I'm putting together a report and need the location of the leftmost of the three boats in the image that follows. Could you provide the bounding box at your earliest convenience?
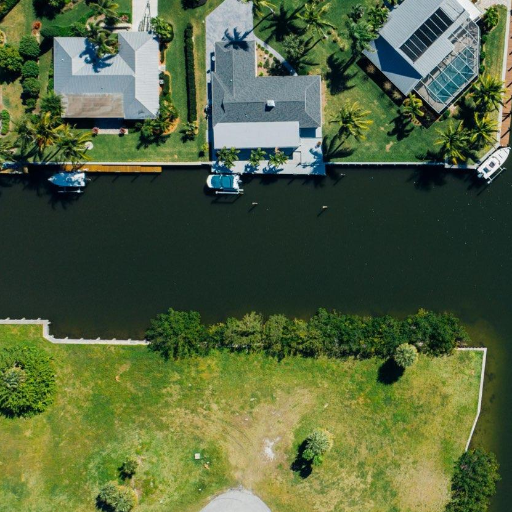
[45,172,90,185]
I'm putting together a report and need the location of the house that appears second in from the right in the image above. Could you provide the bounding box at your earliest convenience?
[212,40,322,148]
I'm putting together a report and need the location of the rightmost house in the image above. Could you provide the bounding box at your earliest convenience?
[363,0,482,96]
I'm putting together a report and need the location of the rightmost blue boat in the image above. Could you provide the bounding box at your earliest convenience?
[205,173,242,190]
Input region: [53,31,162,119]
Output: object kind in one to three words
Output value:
house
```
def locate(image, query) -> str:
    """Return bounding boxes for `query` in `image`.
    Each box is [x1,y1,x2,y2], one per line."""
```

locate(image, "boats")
[477,146,511,179]
[205,173,242,190]
[45,172,90,185]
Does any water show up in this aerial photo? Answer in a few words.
Yes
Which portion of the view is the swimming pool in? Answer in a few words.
top right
